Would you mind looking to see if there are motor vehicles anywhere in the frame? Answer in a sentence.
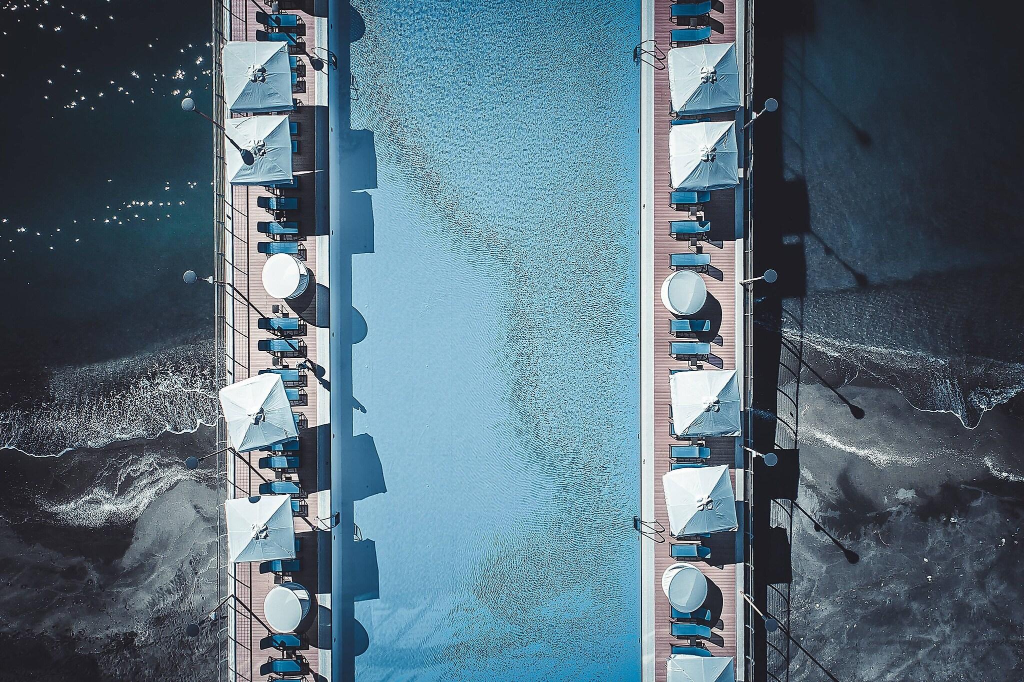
No, no motor vehicle is visible in the view.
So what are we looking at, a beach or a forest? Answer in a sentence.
What you see here is a beach.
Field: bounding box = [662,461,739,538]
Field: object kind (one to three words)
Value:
umbrella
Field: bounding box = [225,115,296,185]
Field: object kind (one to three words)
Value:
umbrella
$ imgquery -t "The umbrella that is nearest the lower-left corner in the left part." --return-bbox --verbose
[225,490,299,564]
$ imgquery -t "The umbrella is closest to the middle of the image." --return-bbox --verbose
[669,367,742,439]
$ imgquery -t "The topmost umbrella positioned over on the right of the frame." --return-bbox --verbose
[666,40,742,116]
